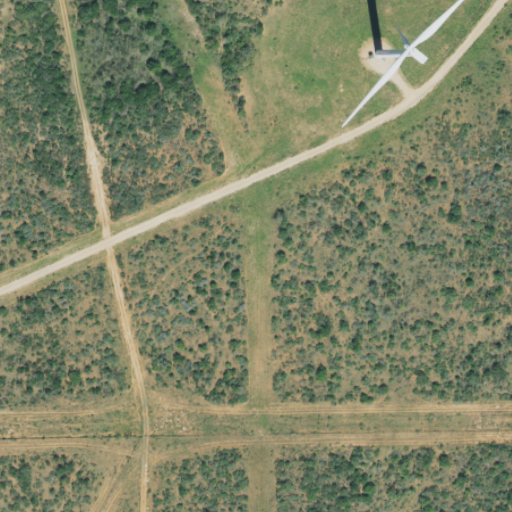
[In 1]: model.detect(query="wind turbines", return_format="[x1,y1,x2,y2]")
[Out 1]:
[343,0,464,126]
